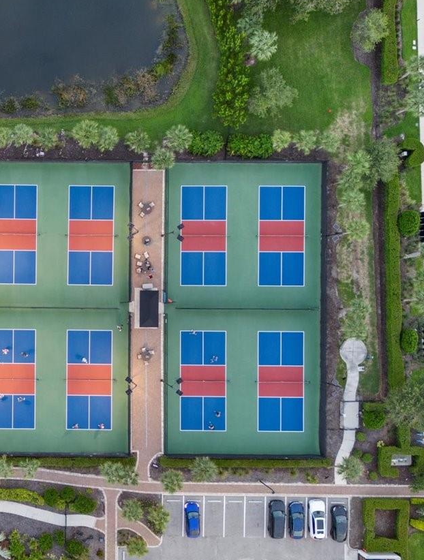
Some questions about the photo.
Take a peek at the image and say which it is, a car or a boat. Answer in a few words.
car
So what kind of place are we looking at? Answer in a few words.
sports ground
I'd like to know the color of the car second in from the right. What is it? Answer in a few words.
white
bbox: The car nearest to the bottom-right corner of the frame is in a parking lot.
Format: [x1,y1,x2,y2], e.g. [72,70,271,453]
[329,505,349,541]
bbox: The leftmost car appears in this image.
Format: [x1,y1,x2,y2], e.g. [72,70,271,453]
[183,501,200,537]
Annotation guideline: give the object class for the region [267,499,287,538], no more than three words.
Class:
car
